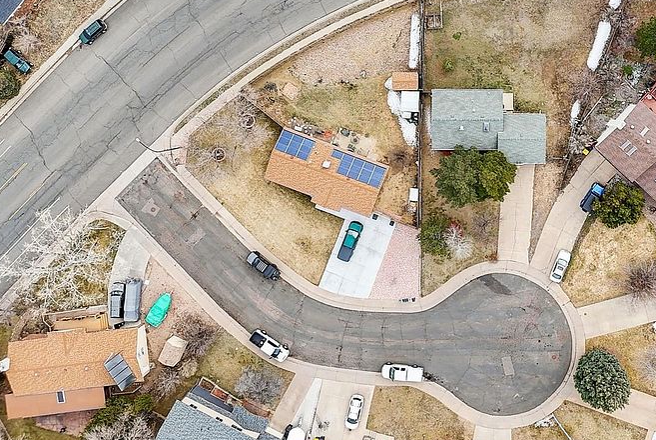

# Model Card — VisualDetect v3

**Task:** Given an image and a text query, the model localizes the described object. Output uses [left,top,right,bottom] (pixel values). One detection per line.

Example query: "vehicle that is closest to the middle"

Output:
[335,220,364,265]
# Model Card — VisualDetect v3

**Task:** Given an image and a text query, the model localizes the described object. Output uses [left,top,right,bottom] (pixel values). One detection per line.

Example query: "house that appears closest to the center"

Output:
[266,129,389,219]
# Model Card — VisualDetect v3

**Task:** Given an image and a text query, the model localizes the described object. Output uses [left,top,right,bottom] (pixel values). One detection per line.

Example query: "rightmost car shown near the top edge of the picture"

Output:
[76,17,111,47]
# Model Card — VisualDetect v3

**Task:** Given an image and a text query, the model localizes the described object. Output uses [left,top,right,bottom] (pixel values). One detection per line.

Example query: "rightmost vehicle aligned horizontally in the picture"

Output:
[381,362,425,383]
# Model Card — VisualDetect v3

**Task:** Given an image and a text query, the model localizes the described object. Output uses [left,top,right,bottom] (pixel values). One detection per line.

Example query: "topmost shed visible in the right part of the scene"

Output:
[391,72,420,89]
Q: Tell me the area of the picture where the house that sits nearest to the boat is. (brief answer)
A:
bottom left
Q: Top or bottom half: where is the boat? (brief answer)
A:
bottom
